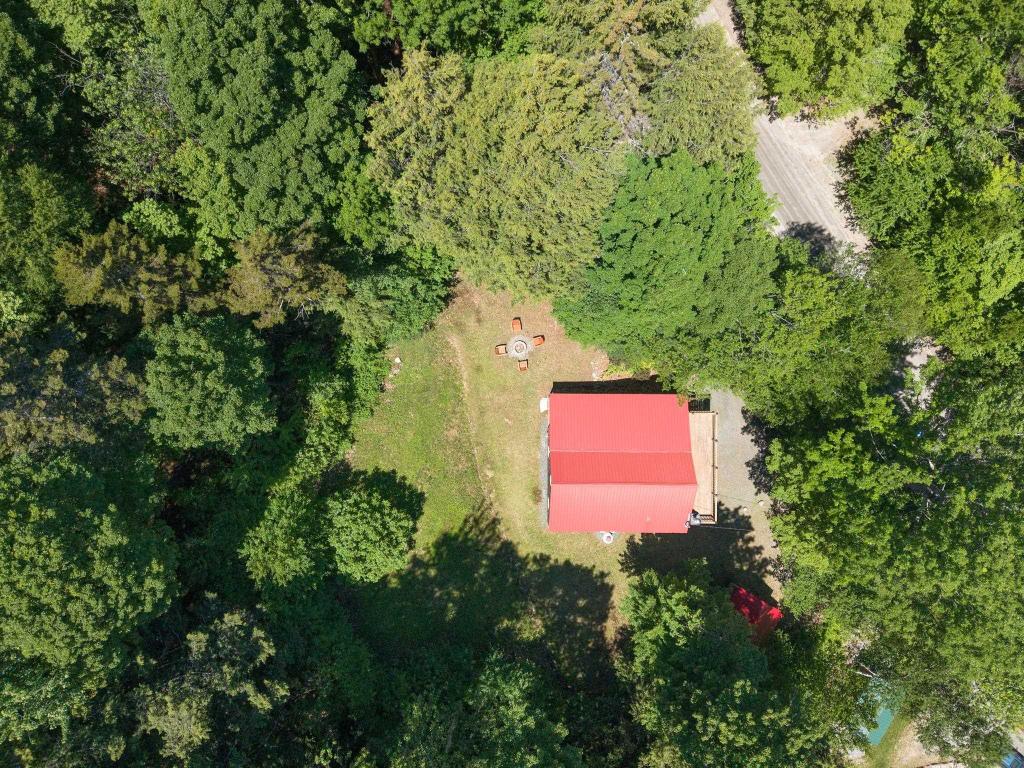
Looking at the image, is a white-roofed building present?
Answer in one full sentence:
No, the scene contains no white-roofed building.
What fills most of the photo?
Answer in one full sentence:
The scene is dominated by trees.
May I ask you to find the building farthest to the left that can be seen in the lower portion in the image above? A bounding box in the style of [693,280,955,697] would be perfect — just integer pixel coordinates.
[549,393,697,533]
